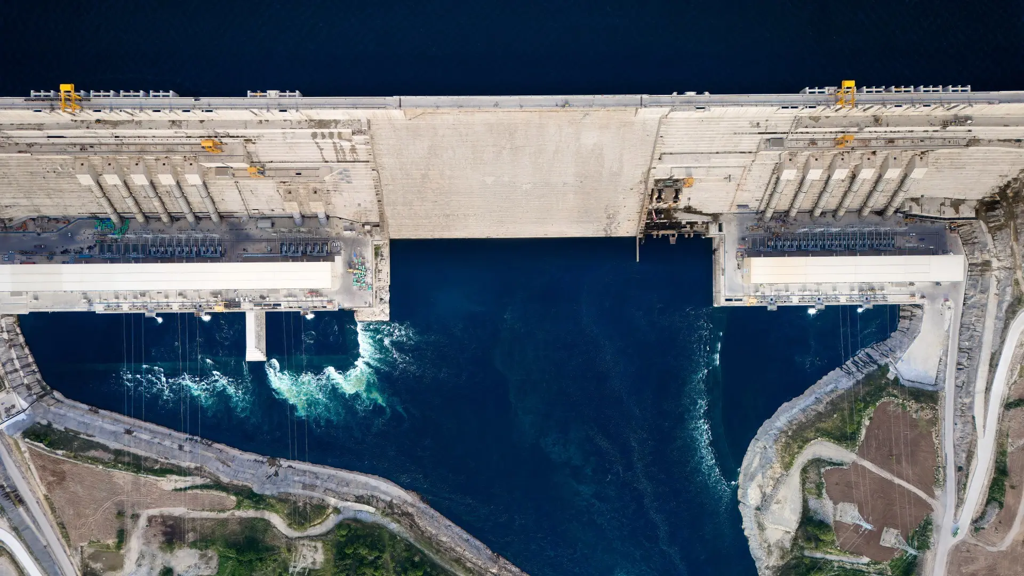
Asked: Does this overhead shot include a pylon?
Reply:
Yes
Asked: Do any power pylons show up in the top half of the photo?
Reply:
No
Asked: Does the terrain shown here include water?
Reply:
Yes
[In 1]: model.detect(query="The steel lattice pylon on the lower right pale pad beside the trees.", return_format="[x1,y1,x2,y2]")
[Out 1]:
[881,527,923,558]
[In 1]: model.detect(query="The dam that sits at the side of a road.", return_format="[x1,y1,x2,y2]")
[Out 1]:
[0,91,1024,238]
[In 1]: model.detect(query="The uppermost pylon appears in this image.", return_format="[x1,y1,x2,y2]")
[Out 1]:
[836,503,876,532]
